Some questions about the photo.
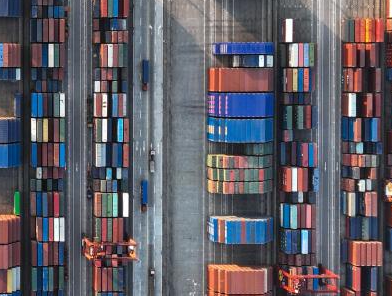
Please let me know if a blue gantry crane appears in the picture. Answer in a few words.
No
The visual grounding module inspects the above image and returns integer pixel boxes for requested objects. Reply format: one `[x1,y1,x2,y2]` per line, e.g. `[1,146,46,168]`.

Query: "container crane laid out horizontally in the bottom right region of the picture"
[271,263,338,293]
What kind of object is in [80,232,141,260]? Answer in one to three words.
container crane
